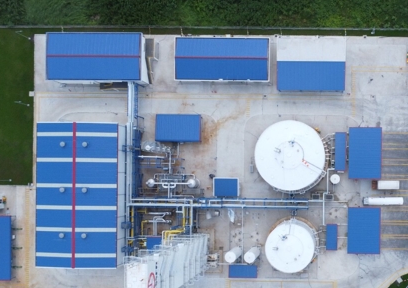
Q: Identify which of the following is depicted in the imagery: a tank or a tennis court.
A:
tank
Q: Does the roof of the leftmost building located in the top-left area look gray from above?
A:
No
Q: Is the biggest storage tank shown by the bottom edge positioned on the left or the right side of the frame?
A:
right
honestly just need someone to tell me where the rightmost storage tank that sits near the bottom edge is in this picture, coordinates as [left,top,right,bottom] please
[264,217,327,274]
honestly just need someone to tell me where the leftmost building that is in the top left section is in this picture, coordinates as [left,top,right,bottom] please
[45,31,146,84]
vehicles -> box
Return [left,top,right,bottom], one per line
[370,180,399,190]
[362,196,403,207]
